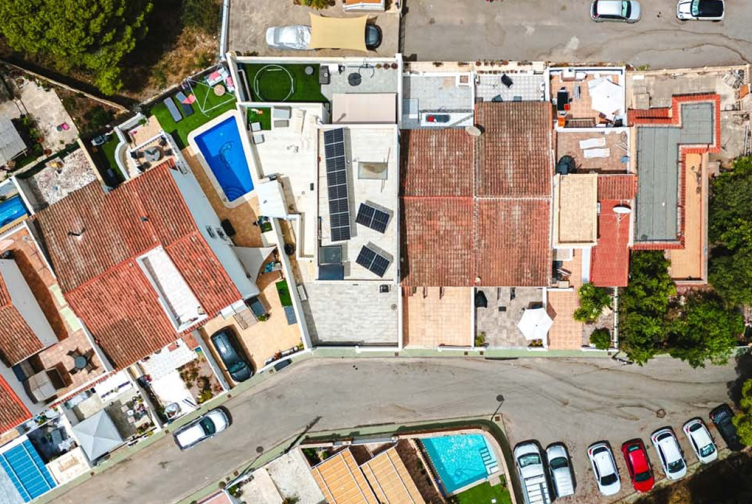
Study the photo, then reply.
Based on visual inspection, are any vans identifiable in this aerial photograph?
Yes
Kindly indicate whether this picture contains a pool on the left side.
Yes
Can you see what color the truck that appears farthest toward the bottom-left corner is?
white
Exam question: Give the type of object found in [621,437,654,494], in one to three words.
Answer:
car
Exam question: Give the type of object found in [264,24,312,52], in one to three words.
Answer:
car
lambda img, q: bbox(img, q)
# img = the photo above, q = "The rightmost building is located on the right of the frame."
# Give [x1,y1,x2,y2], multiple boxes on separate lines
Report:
[628,94,722,284]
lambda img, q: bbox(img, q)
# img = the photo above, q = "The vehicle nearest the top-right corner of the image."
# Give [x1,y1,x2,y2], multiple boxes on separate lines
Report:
[675,0,726,23]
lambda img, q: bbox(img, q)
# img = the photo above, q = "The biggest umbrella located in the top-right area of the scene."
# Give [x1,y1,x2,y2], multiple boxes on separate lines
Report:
[585,76,629,119]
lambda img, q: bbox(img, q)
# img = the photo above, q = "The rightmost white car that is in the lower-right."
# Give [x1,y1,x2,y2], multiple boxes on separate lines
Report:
[681,414,717,466]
